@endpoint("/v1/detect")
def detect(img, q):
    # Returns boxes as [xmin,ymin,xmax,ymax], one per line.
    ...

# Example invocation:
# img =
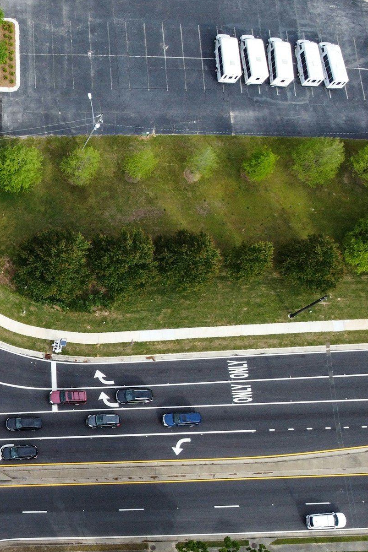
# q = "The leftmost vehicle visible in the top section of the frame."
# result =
[214,36,242,84]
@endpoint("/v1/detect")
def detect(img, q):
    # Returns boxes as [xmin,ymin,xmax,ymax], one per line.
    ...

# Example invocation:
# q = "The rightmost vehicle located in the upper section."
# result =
[321,41,352,91]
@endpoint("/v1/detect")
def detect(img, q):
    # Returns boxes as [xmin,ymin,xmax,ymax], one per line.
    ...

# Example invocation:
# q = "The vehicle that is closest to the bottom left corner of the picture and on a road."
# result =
[1,442,38,461]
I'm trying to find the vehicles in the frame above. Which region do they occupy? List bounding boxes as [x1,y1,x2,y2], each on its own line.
[321,41,352,91]
[49,388,87,406]
[304,511,347,530]
[86,410,121,428]
[115,387,154,405]
[1,442,38,461]
[162,409,202,428]
[266,39,295,87]
[240,37,270,85]
[294,39,327,88]
[214,36,242,84]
